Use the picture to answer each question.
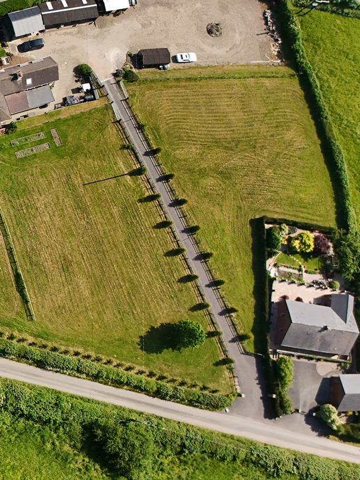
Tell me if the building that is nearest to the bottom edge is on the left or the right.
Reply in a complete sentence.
You can find the building that is nearest to the bottom edge on the right side of the picture.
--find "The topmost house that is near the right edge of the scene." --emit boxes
[278,294,360,356]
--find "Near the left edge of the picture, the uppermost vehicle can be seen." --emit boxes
[18,38,45,54]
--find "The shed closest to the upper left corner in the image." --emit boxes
[7,6,45,40]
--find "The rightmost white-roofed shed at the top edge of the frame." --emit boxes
[101,0,130,16]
